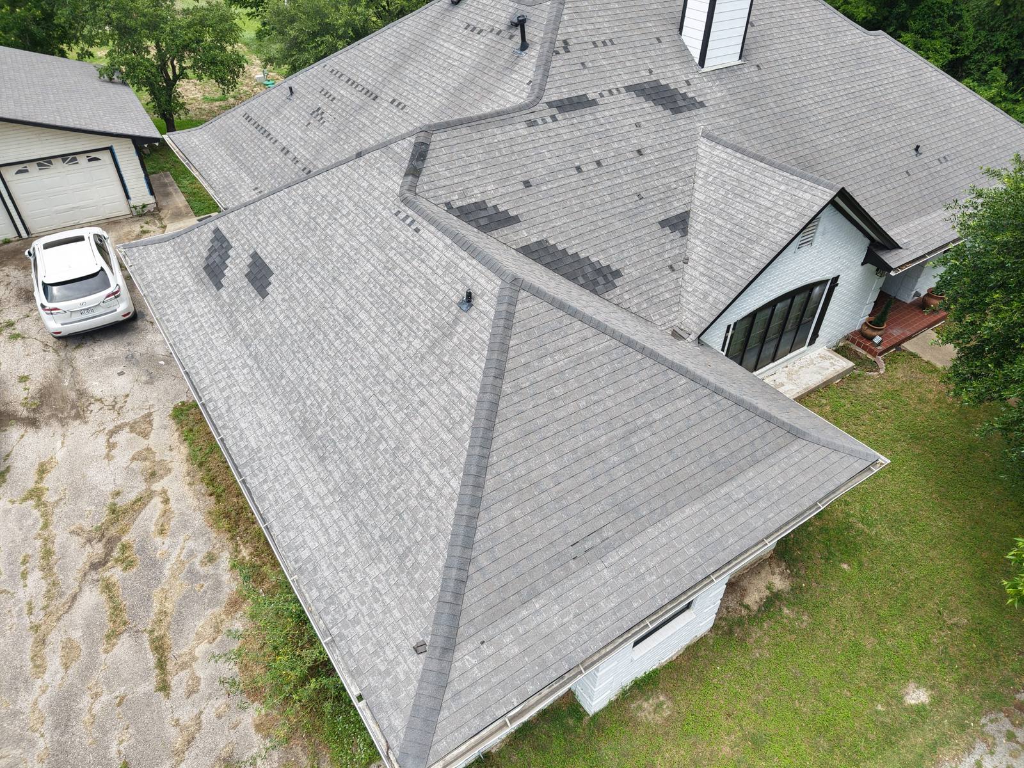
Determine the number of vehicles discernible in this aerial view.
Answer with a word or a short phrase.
1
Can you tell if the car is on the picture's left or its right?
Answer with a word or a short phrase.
left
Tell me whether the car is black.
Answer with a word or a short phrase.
No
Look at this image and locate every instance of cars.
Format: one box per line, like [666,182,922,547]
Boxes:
[27,216,138,337]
